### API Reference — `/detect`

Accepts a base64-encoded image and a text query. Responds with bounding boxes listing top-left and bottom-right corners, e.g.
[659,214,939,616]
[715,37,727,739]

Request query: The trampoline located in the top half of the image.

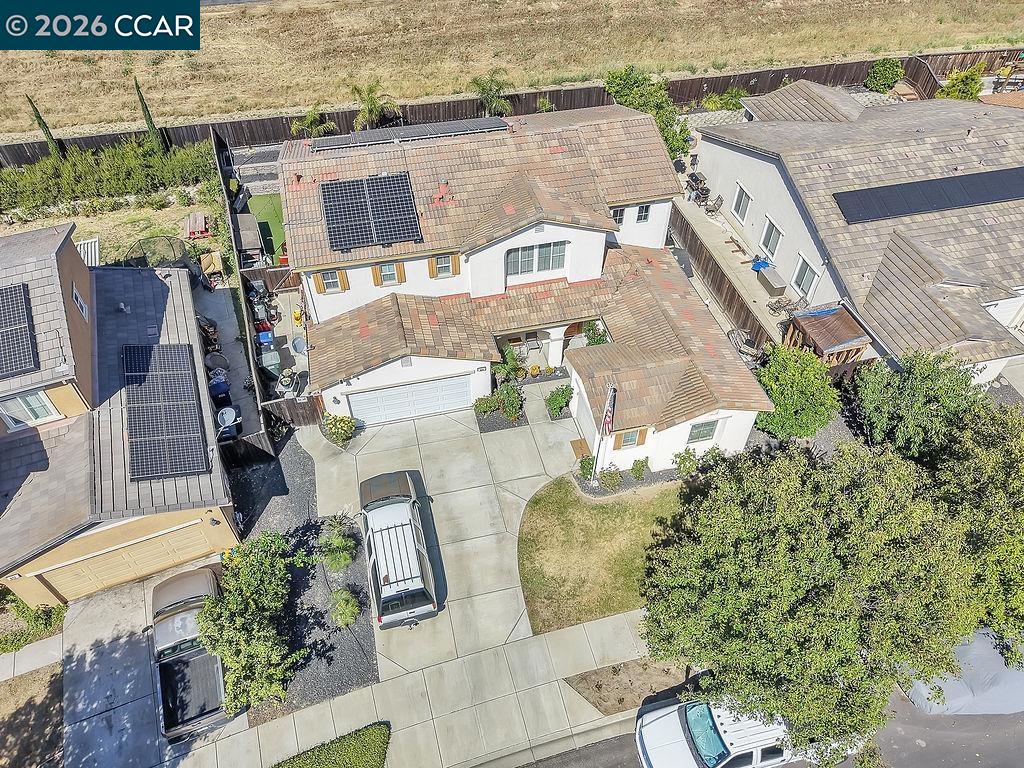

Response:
[117,232,215,307]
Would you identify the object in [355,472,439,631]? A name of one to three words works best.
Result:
car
